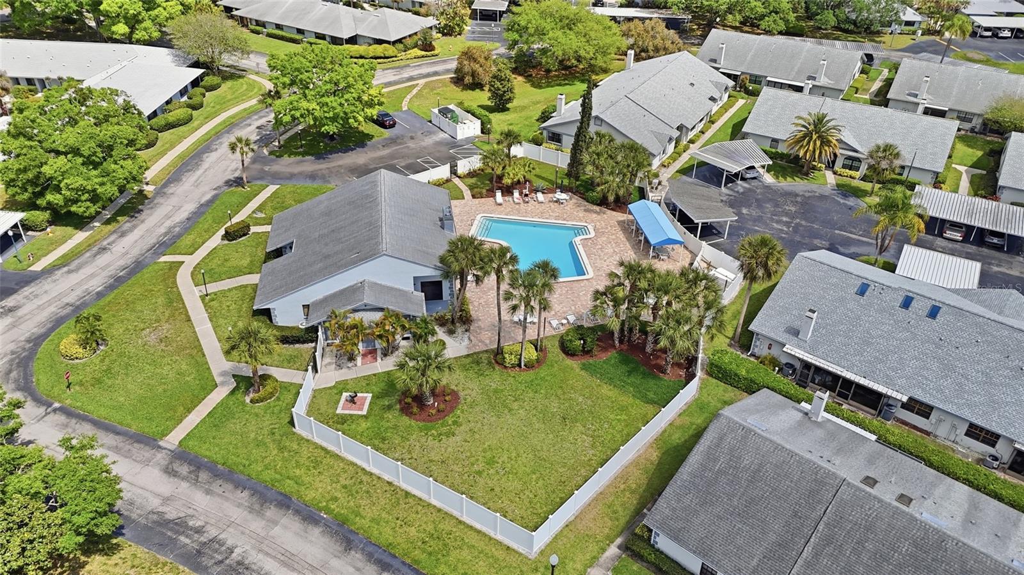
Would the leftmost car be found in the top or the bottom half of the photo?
top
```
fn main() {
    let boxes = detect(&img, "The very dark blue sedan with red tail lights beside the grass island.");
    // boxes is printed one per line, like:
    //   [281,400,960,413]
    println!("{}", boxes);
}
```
[368,110,401,130]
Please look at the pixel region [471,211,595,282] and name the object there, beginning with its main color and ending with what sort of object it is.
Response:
blue swimming pool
